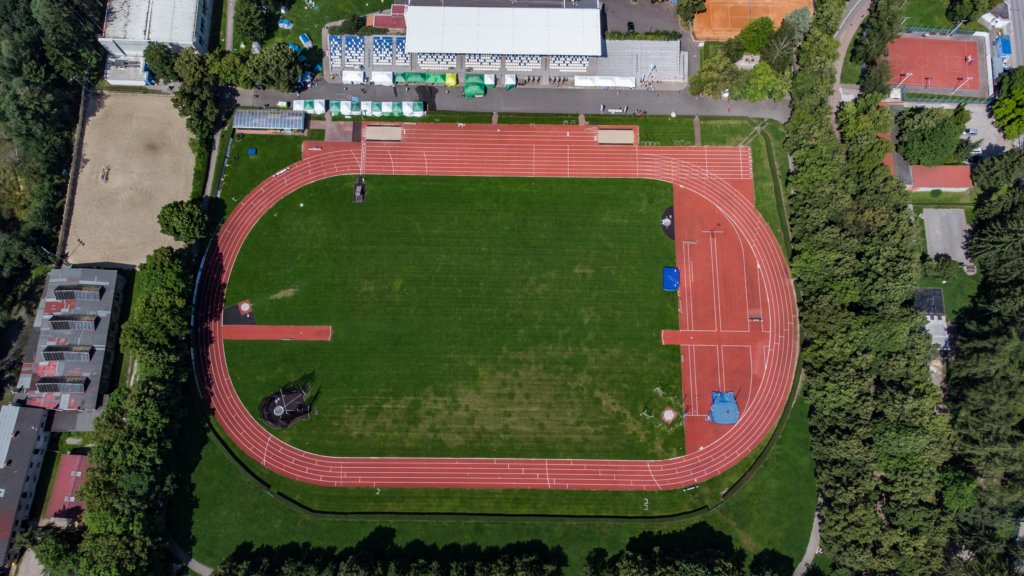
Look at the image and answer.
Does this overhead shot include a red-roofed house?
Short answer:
Yes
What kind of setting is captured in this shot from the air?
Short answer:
sports ground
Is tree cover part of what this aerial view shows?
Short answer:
Yes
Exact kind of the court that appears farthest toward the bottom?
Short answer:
basketball court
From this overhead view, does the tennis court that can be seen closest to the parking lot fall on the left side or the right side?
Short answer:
right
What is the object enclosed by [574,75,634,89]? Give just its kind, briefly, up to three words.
tent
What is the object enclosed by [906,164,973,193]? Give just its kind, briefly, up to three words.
house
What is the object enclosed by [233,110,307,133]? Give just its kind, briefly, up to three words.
shed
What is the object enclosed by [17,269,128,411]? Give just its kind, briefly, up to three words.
building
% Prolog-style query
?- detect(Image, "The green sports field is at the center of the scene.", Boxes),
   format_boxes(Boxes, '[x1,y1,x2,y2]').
[223,173,687,460]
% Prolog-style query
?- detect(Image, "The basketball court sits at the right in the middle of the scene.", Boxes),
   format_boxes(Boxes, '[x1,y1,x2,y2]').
[922,208,972,262]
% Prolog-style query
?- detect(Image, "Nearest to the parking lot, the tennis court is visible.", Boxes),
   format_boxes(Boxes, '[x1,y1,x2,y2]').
[693,0,808,42]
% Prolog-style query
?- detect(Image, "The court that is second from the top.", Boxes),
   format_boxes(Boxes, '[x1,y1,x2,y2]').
[883,31,985,98]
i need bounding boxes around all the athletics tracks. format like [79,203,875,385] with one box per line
[194,123,799,491]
